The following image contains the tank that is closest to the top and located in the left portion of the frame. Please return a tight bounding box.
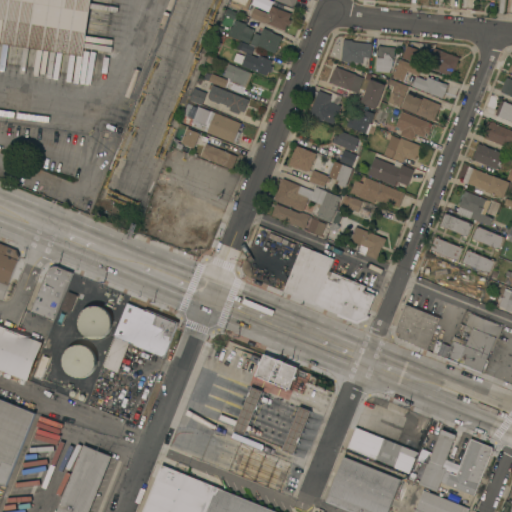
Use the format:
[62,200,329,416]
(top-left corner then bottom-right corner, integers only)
[76,305,112,339]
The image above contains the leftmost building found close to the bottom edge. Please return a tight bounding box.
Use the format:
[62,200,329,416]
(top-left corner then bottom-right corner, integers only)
[0,398,37,487]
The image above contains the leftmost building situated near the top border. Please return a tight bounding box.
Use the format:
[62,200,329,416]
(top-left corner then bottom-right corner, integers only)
[0,0,92,58]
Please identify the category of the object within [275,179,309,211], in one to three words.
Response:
house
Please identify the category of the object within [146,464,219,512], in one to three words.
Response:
building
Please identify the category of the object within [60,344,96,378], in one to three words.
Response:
storage tank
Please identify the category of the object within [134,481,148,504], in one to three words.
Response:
vehicle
